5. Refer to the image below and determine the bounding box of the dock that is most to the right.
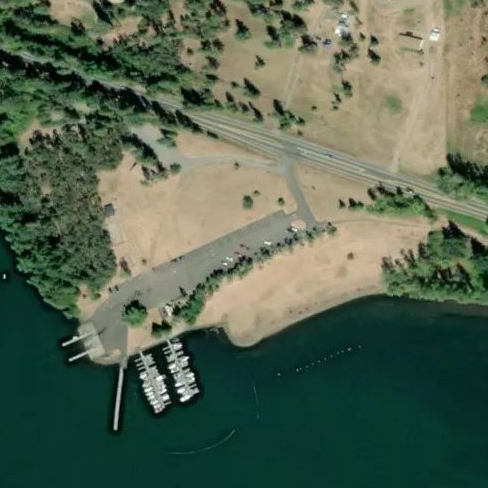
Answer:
[162,339,196,396]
